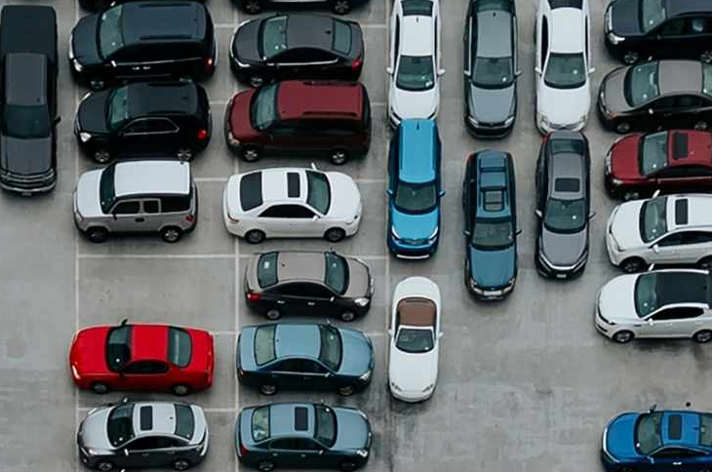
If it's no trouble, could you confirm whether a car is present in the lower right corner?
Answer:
Yes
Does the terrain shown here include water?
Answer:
No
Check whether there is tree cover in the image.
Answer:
No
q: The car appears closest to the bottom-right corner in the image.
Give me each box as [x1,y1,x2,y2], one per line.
[600,400,712,472]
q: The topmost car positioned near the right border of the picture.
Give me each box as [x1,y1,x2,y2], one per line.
[602,0,712,61]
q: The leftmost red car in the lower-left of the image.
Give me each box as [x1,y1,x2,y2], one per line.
[69,313,217,394]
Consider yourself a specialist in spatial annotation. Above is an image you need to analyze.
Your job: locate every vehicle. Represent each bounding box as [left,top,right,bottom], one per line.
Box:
[67,0,219,88]
[0,7,63,195]
[459,0,525,139]
[383,0,448,121]
[531,127,598,280]
[72,157,200,243]
[603,187,712,272]
[384,107,449,261]
[458,145,525,303]
[602,0,712,61]
[600,400,712,472]
[229,3,367,86]
[592,261,712,342]
[69,313,217,394]
[73,75,213,162]
[531,0,598,130]
[234,392,376,471]
[601,118,712,200]
[243,240,377,321]
[595,49,712,133]
[222,160,365,242]
[222,73,374,163]
[77,392,210,471]
[234,315,377,395]
[384,271,448,406]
